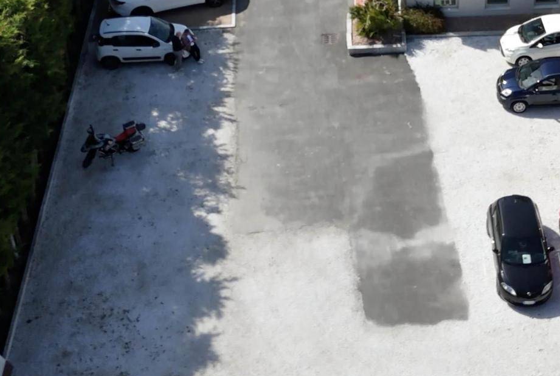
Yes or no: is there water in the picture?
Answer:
No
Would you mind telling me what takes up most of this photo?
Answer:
paved ground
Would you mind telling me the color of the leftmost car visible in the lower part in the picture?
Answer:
black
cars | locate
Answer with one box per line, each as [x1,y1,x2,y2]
[497,11,560,66]
[484,195,554,307]
[497,56,560,113]
[113,0,224,15]
[89,13,190,70]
